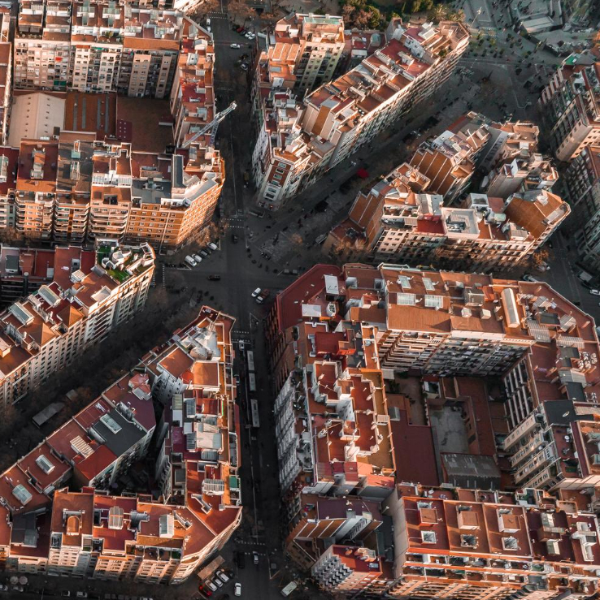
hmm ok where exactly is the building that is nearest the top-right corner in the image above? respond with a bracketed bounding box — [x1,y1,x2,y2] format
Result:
[518,14,556,39]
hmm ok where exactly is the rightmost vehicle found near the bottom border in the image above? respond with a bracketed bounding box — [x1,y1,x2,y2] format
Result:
[282,581,295,596]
